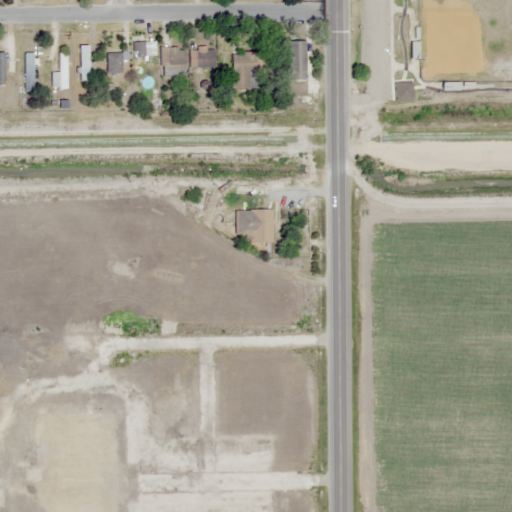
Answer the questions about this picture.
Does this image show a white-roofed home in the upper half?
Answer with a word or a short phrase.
Yes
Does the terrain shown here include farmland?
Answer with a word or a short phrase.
Yes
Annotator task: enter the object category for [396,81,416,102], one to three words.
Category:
building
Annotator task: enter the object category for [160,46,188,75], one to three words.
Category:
house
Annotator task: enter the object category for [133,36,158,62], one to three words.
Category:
house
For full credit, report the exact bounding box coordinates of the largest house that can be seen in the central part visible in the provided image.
[236,210,274,243]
